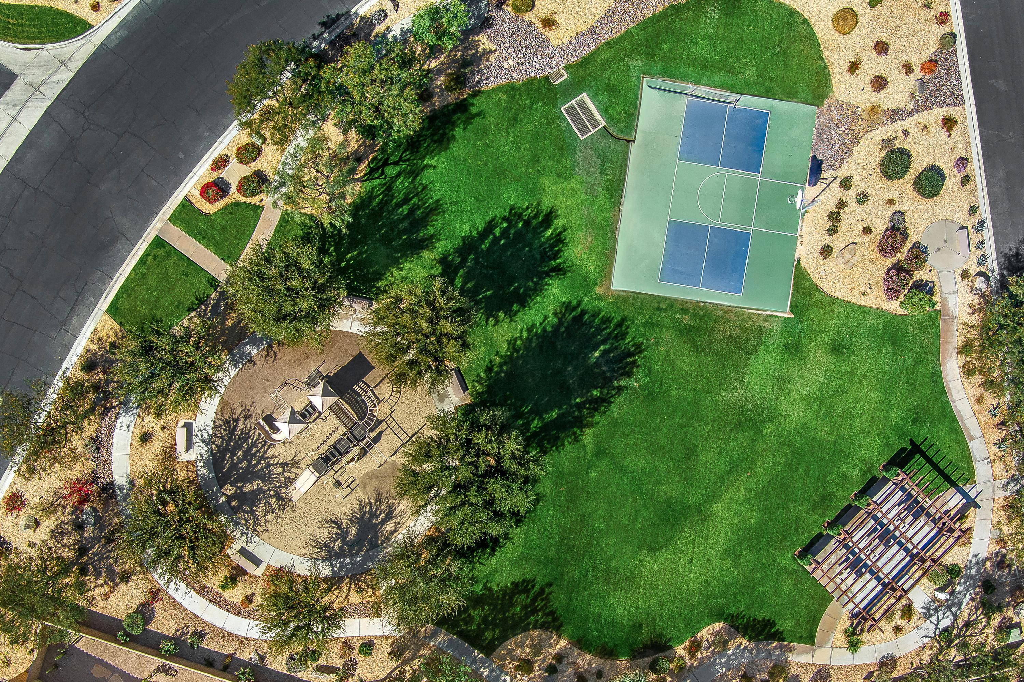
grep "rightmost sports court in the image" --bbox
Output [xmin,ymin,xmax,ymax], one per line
[613,77,817,314]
